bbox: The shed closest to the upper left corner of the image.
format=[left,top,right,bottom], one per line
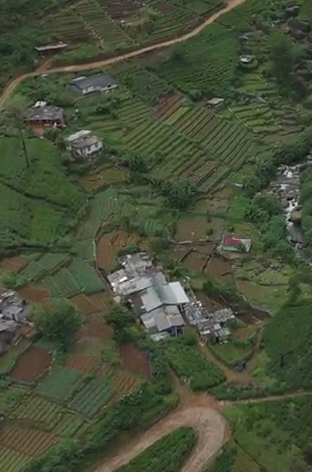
[36,41,69,60]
